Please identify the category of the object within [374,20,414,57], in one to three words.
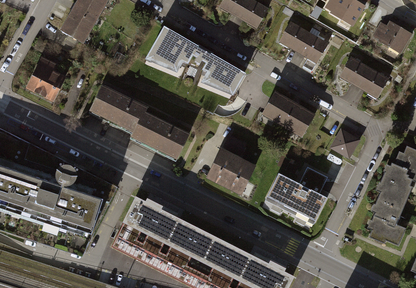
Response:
house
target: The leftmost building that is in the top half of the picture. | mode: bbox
[26,56,69,104]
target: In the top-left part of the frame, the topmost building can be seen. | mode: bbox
[62,0,108,44]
